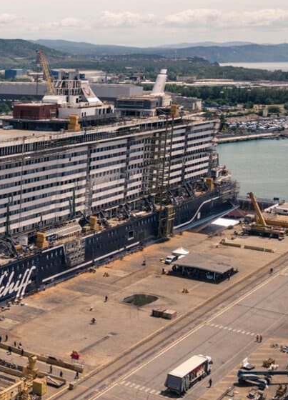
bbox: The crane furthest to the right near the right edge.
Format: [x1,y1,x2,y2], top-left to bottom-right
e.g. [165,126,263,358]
[246,192,288,237]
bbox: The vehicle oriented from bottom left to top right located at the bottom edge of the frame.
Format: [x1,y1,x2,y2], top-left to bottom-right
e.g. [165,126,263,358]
[167,353,213,394]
